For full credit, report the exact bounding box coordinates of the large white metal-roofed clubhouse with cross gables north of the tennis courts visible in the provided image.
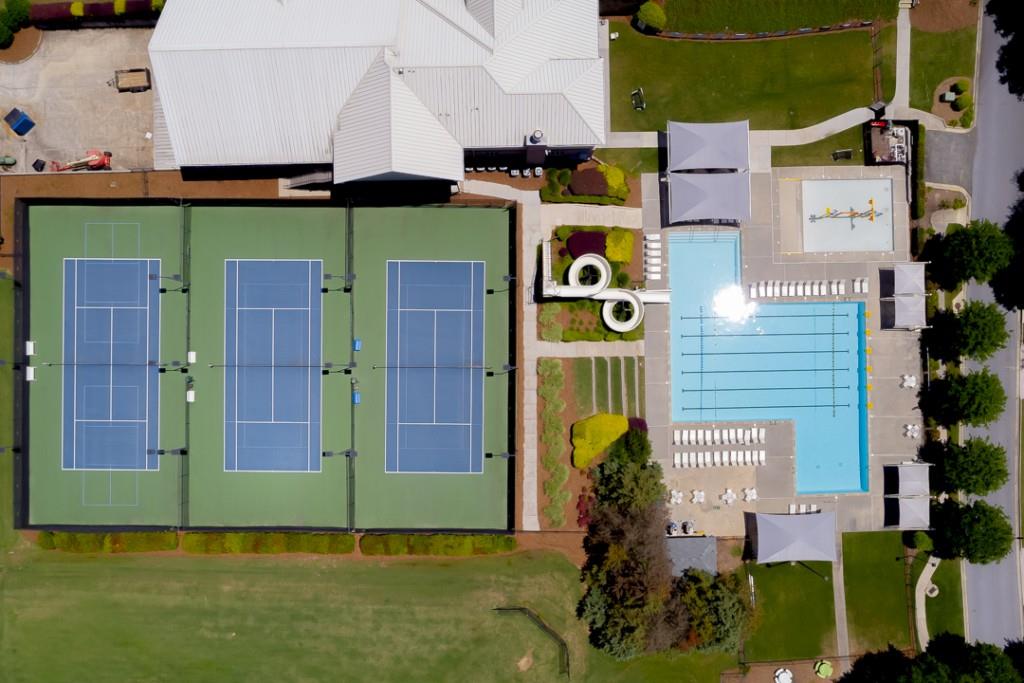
[148,0,605,184]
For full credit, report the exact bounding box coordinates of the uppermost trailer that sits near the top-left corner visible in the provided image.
[106,66,149,92]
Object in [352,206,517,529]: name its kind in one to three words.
tennis court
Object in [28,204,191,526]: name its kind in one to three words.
tennis court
